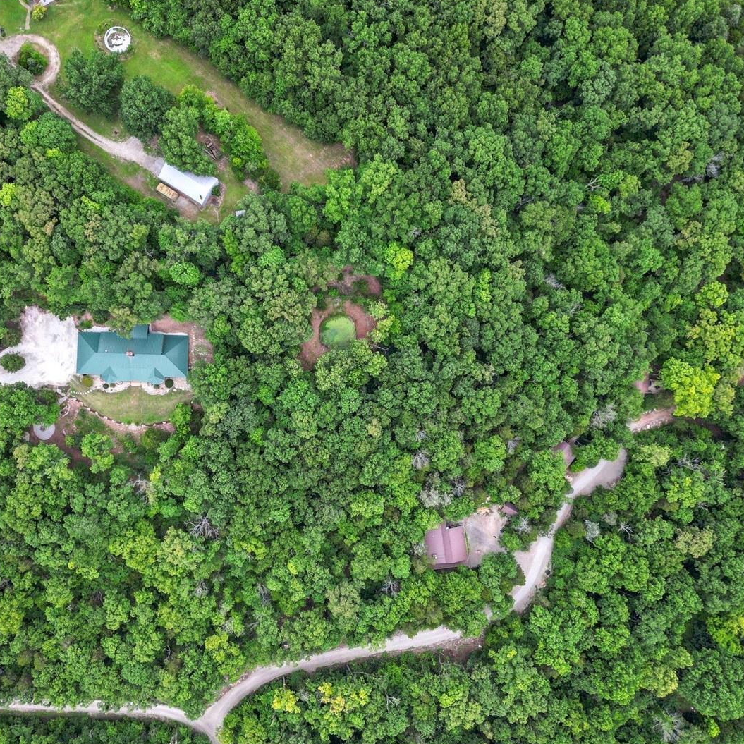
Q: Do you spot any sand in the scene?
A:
No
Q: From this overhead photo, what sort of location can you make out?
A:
forest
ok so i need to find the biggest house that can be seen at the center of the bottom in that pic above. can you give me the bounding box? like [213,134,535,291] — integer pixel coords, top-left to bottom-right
[427,522,467,570]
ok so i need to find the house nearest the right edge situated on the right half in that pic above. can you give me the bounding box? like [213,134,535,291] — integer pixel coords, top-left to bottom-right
[632,371,665,395]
